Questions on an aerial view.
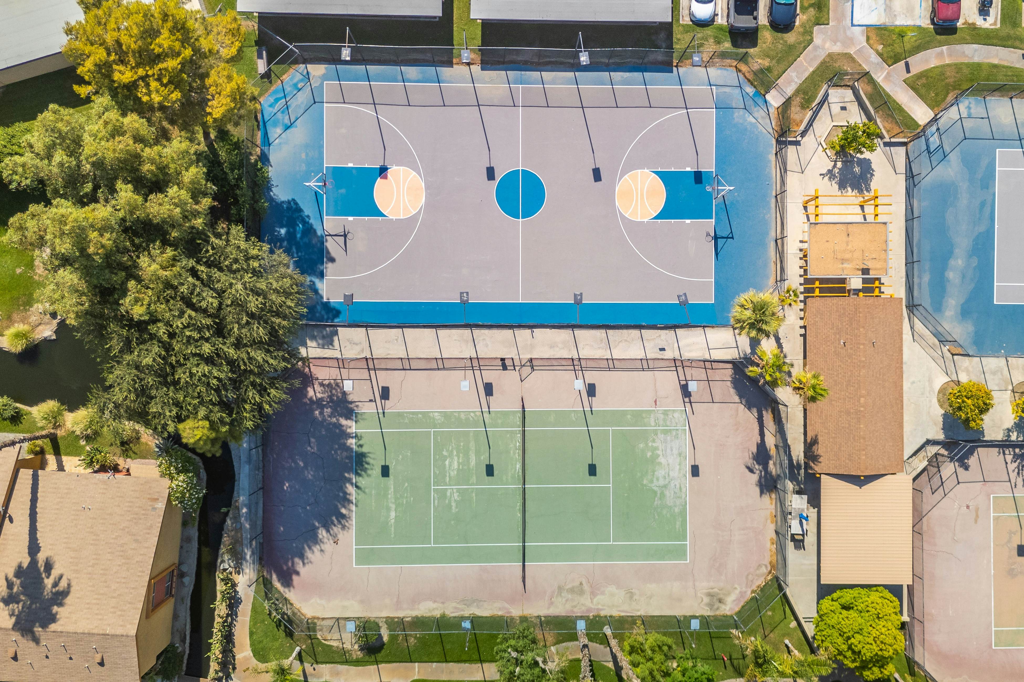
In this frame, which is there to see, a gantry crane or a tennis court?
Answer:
tennis court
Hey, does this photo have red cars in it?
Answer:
Yes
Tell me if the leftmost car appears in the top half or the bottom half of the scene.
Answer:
top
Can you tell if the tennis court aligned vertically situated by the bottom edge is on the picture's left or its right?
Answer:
right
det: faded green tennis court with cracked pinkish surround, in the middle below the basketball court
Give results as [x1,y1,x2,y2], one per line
[263,359,776,618]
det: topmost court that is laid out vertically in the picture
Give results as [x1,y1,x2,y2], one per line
[907,98,1024,356]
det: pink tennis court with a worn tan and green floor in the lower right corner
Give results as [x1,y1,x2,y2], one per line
[911,442,1024,682]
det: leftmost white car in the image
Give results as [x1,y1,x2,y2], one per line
[687,0,715,23]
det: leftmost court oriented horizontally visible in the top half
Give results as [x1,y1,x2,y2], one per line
[261,65,776,324]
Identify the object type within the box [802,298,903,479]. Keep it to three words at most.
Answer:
building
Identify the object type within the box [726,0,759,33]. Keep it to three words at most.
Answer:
truck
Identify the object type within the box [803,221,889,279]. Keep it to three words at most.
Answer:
building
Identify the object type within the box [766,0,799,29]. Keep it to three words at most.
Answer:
car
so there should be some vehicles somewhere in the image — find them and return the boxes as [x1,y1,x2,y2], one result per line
[766,0,799,29]
[979,0,994,9]
[687,0,715,23]
[726,0,759,33]
[929,0,964,26]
